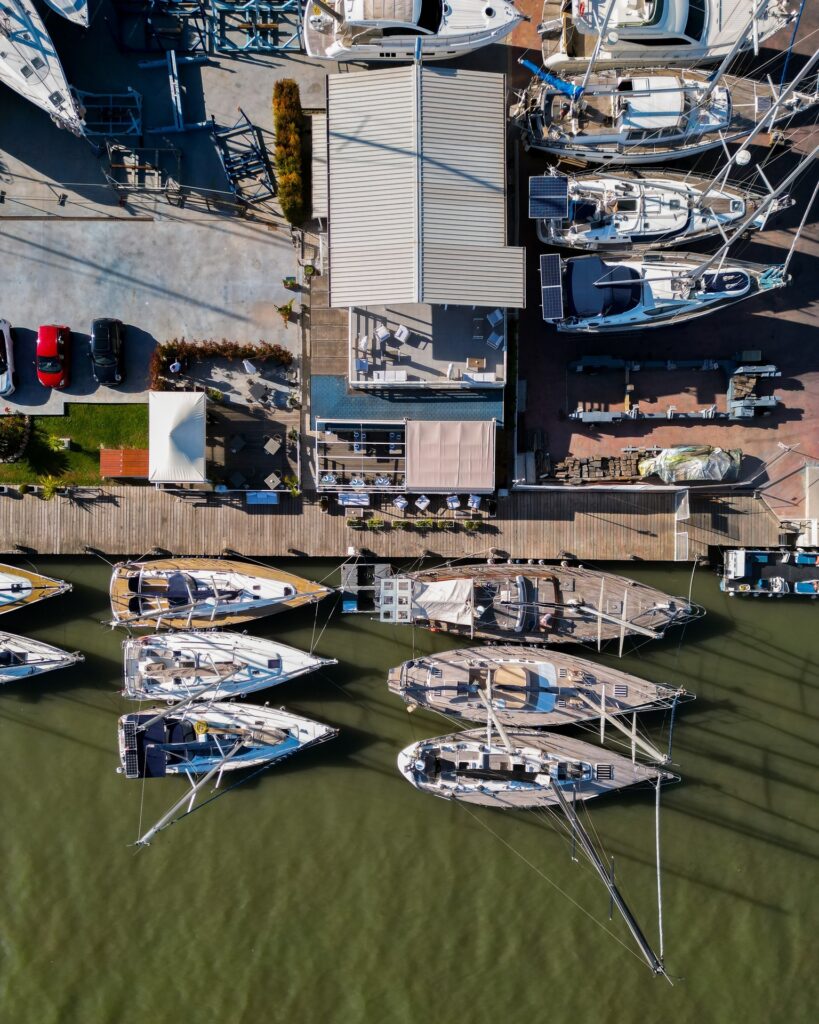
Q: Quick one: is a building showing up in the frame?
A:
Yes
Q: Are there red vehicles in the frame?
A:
Yes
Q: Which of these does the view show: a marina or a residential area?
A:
marina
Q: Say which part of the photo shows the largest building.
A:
top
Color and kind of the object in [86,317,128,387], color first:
black car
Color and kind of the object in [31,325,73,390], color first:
red car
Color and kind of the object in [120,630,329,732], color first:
white boat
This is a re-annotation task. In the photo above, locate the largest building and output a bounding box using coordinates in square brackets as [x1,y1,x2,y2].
[313,66,528,390]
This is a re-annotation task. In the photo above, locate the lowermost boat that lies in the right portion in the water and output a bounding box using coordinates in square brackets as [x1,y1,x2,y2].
[398,725,679,988]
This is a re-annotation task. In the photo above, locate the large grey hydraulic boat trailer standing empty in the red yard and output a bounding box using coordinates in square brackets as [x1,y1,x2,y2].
[570,352,781,424]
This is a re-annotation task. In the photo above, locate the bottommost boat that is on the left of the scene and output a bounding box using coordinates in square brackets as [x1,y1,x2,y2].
[115,702,339,851]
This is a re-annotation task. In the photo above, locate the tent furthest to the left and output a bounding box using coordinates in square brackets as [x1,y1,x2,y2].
[149,392,216,487]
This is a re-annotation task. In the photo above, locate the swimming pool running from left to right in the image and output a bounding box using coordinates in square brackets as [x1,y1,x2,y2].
[308,376,505,437]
